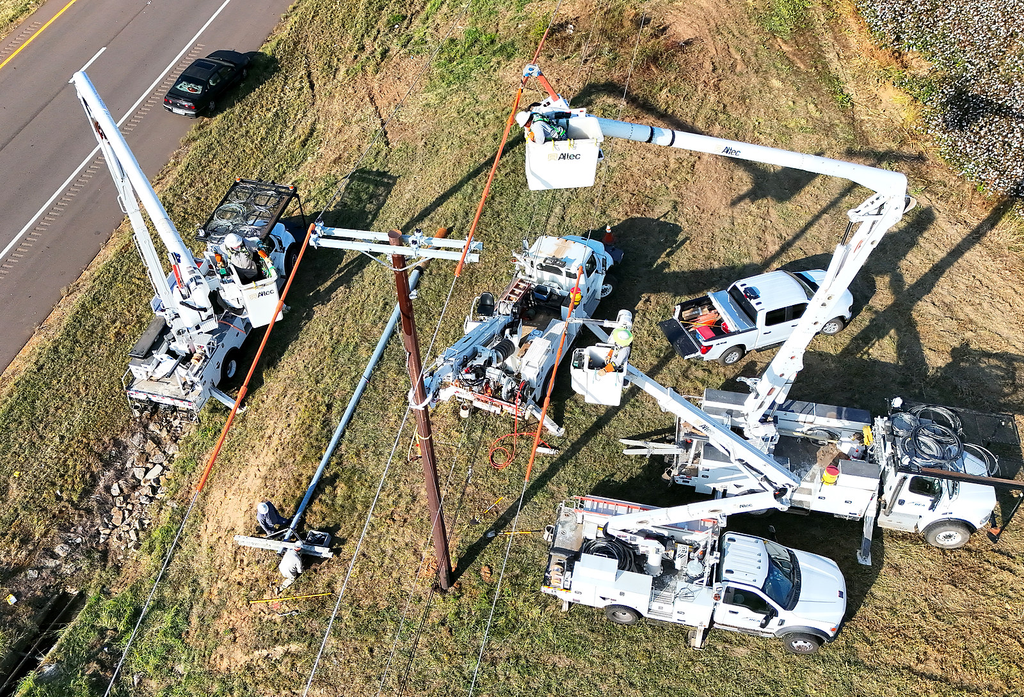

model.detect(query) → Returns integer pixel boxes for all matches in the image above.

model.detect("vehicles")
[165,46,256,117]
[69,65,309,435]
[653,263,864,367]
[523,64,1024,568]
[537,304,853,653]
[404,235,613,441]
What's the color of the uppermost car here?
black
